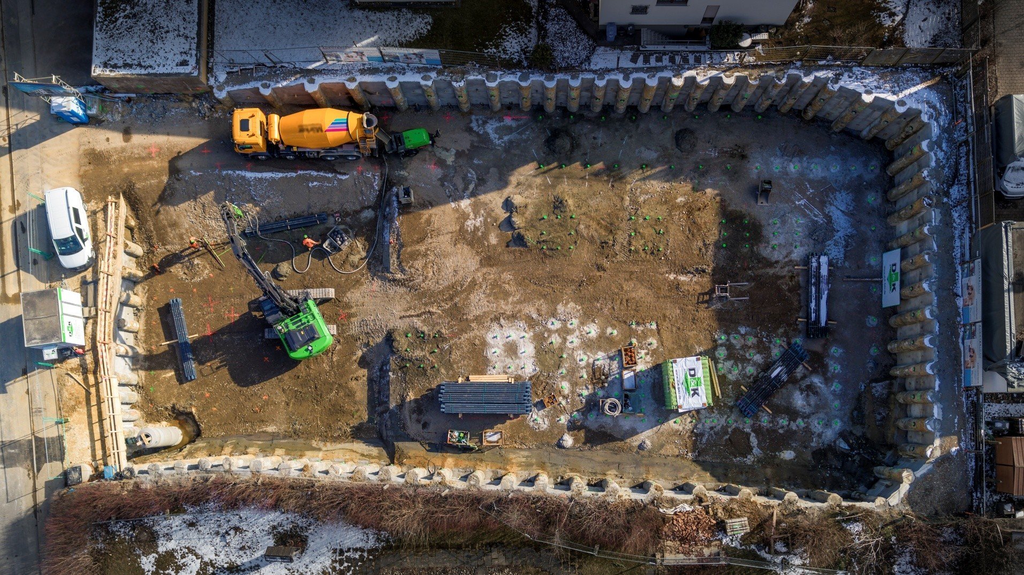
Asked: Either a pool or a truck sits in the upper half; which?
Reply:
truck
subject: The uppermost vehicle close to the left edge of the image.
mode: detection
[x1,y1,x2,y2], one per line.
[45,187,99,272]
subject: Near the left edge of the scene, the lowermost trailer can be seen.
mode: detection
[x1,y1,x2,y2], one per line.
[22,287,86,369]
